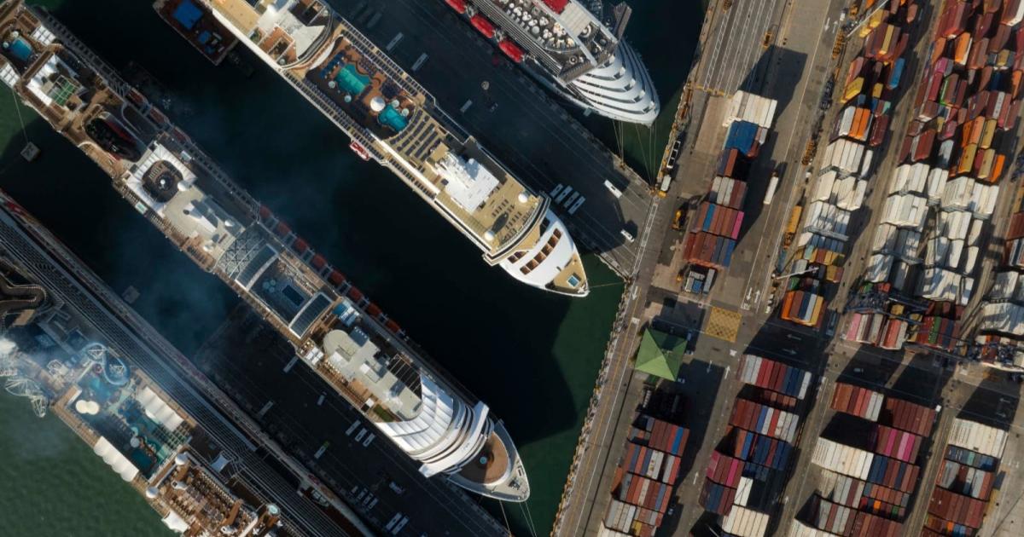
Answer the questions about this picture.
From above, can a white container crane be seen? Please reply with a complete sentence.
No, I find no white container crane anywhere in the image.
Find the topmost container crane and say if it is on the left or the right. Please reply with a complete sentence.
It is on the right.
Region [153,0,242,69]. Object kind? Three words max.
ship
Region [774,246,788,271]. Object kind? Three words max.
vehicle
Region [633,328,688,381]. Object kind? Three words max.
tent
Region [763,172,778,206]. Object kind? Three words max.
vehicle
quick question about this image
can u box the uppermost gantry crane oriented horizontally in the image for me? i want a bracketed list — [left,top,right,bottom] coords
[825,286,963,344]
